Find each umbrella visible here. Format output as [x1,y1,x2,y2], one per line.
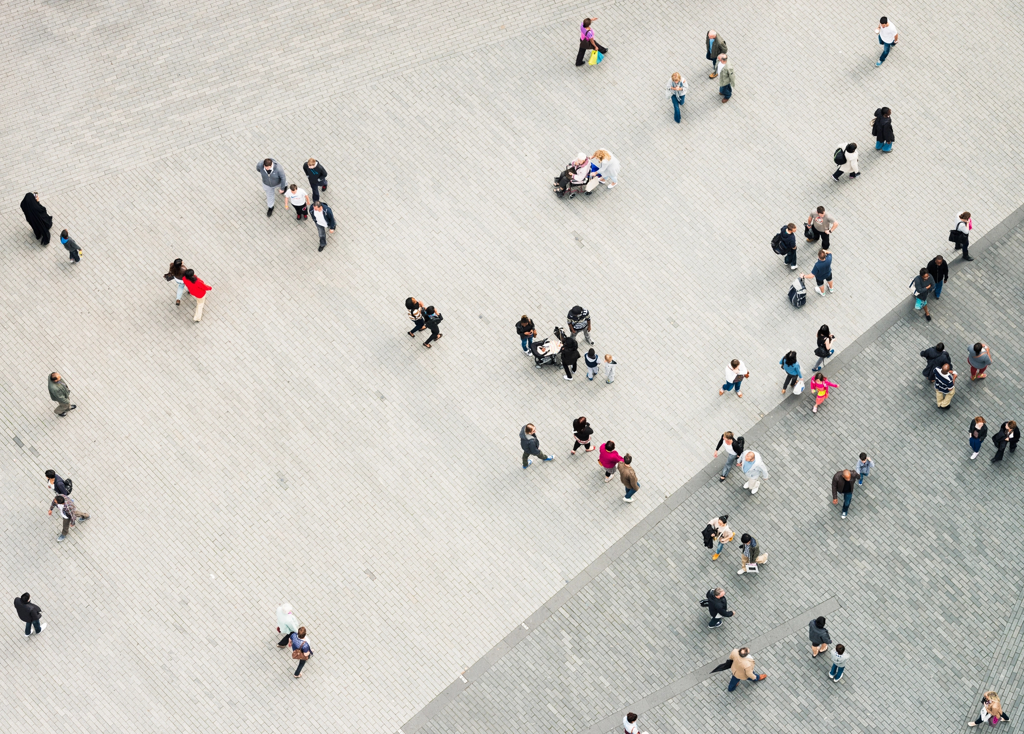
[708,661,730,675]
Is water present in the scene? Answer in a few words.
No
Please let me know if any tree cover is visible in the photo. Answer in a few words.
No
